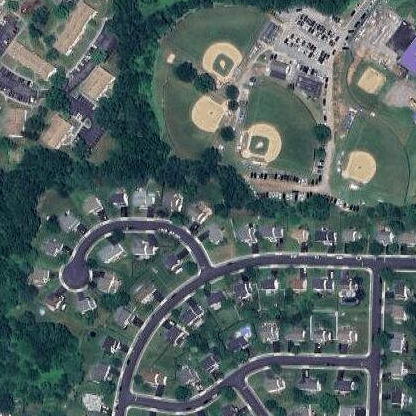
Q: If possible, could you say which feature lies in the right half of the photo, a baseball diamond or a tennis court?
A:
baseball diamond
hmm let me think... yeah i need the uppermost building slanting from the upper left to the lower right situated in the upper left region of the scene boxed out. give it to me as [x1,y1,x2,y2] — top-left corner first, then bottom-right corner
[9,41,55,78]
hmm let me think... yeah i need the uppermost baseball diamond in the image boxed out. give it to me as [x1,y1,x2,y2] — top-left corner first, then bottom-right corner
[203,43,242,88]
